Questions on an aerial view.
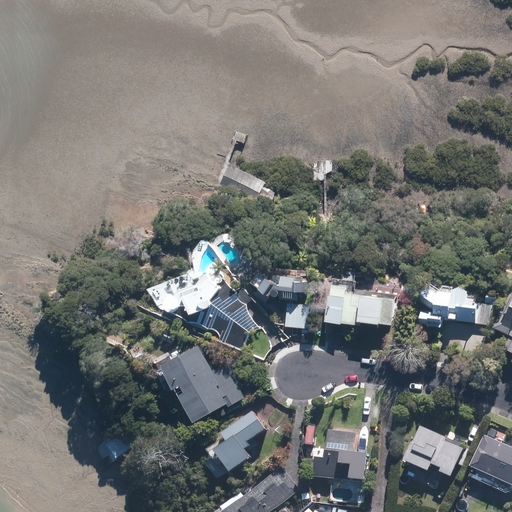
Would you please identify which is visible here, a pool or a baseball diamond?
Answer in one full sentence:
There is a pool in the scene.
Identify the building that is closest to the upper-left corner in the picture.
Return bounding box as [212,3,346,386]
[220,164,266,200]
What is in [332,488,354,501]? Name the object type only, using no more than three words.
swimming pool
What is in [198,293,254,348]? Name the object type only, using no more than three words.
house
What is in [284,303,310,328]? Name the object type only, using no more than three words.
building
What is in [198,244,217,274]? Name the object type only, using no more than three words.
swimming pool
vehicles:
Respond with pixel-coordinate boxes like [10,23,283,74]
[320,382,334,392]
[468,425,478,440]
[364,398,372,414]
[345,375,358,382]
[423,386,438,392]
[410,382,423,390]
[360,358,376,364]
